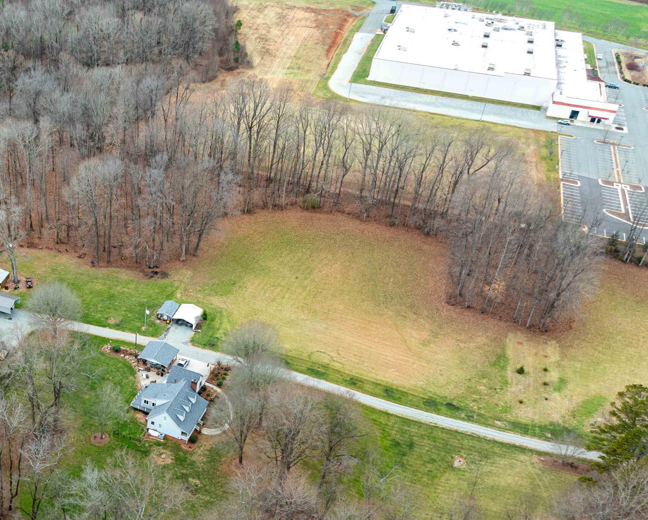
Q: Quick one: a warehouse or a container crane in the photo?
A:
warehouse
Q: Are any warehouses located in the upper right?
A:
Yes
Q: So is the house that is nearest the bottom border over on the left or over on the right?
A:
left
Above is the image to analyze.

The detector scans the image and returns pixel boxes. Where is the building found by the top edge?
[369,6,619,124]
